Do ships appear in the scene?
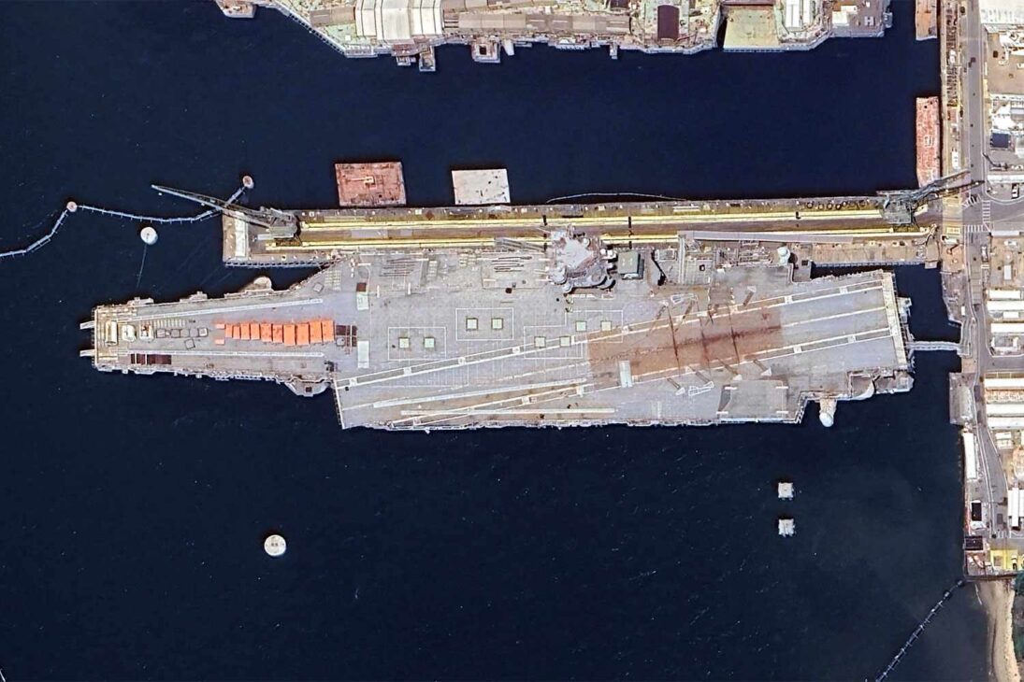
Yes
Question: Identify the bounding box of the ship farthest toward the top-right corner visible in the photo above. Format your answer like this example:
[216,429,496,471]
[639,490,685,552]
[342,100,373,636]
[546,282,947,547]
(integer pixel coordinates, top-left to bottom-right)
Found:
[915,0,939,41]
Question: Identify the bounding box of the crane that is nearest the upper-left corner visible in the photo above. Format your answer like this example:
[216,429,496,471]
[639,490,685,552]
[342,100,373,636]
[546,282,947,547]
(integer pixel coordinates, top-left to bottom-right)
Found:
[151,185,303,253]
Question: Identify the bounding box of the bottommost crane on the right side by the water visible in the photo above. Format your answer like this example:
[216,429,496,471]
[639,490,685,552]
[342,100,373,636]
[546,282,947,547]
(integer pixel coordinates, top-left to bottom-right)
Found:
[883,172,970,240]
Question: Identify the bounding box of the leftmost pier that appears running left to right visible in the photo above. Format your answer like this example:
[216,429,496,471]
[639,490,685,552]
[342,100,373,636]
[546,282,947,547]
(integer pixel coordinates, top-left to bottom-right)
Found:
[78,205,223,222]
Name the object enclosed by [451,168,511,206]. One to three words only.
ship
